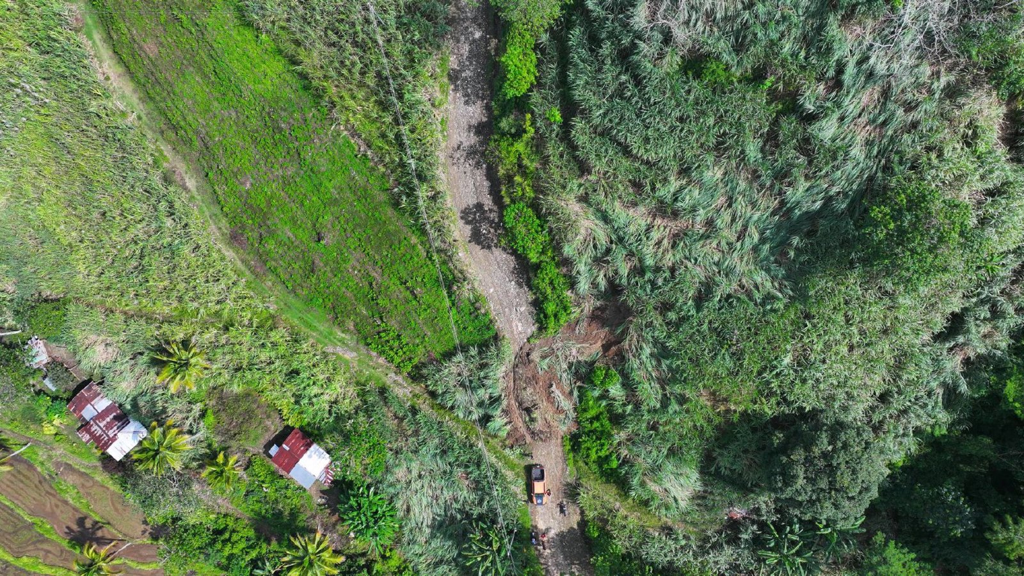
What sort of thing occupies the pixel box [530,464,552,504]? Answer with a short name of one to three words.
truck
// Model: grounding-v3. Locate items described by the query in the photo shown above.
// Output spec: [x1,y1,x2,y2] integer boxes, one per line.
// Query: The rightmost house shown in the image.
[273,427,337,488]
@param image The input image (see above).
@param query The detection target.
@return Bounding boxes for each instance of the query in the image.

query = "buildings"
[70,381,149,461]
[24,337,52,370]
[273,427,337,488]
